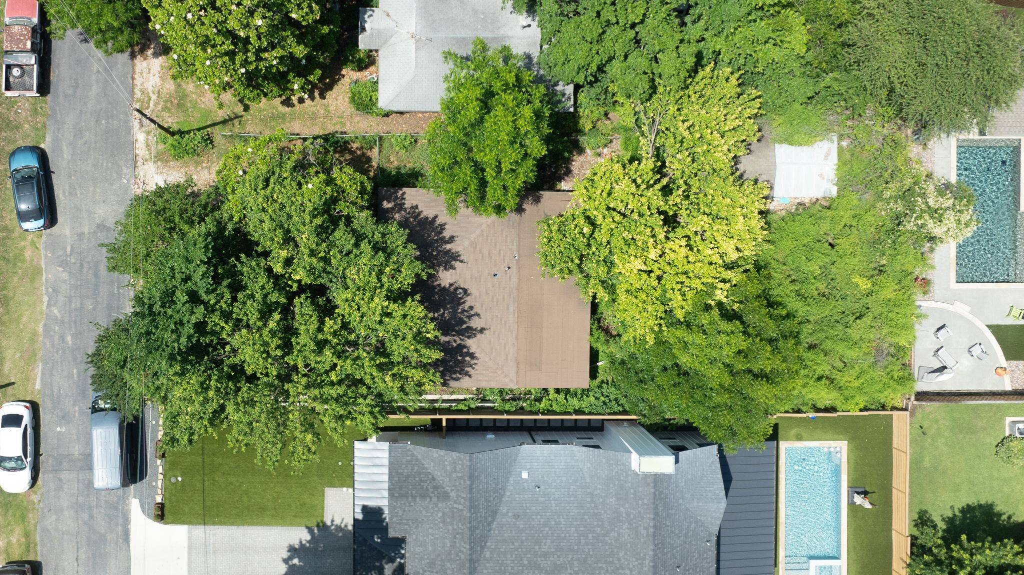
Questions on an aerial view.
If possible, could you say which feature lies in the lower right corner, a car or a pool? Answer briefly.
pool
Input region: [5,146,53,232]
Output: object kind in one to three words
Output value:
car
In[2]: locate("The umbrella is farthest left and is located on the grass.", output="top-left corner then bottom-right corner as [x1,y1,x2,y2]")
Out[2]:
[847,487,877,508]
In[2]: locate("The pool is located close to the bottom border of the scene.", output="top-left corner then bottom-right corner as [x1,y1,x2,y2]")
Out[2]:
[780,442,848,575]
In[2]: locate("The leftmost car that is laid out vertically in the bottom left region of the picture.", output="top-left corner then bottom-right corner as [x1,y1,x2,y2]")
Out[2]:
[0,401,39,491]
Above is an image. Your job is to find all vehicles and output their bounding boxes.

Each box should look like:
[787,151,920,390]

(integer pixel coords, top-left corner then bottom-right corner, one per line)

[89,394,138,496]
[0,562,34,575]
[0,0,47,100]
[5,146,53,232]
[0,401,39,491]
